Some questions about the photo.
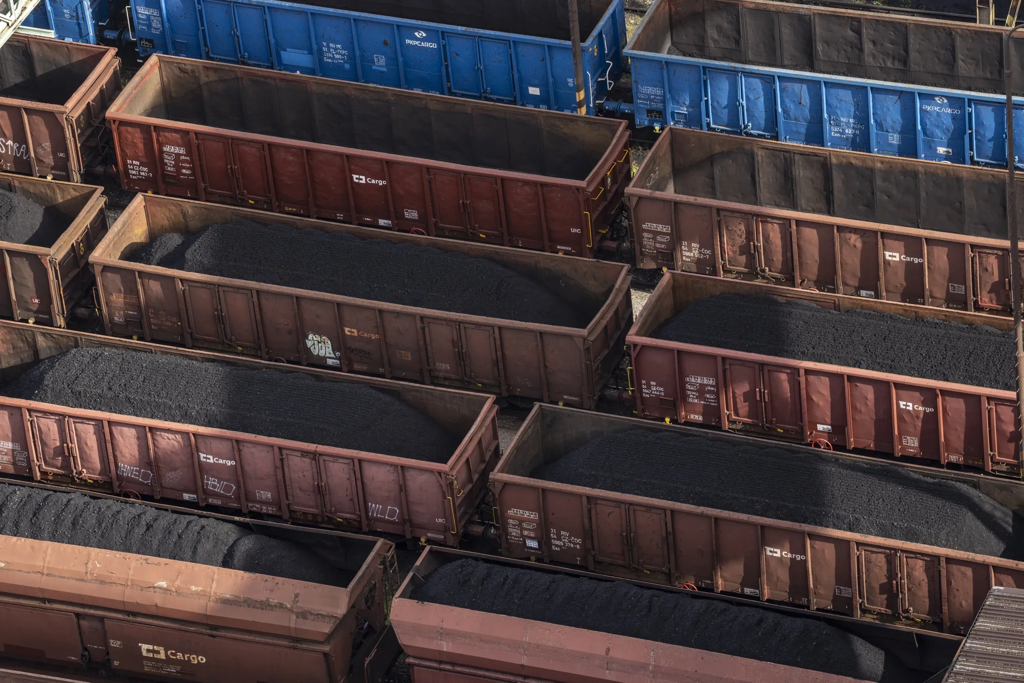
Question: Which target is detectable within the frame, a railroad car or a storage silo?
railroad car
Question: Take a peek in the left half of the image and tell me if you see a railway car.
Yes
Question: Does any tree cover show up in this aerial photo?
No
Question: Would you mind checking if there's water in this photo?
No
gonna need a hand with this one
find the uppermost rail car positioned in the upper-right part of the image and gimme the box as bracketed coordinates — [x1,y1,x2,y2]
[614,0,1024,173]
